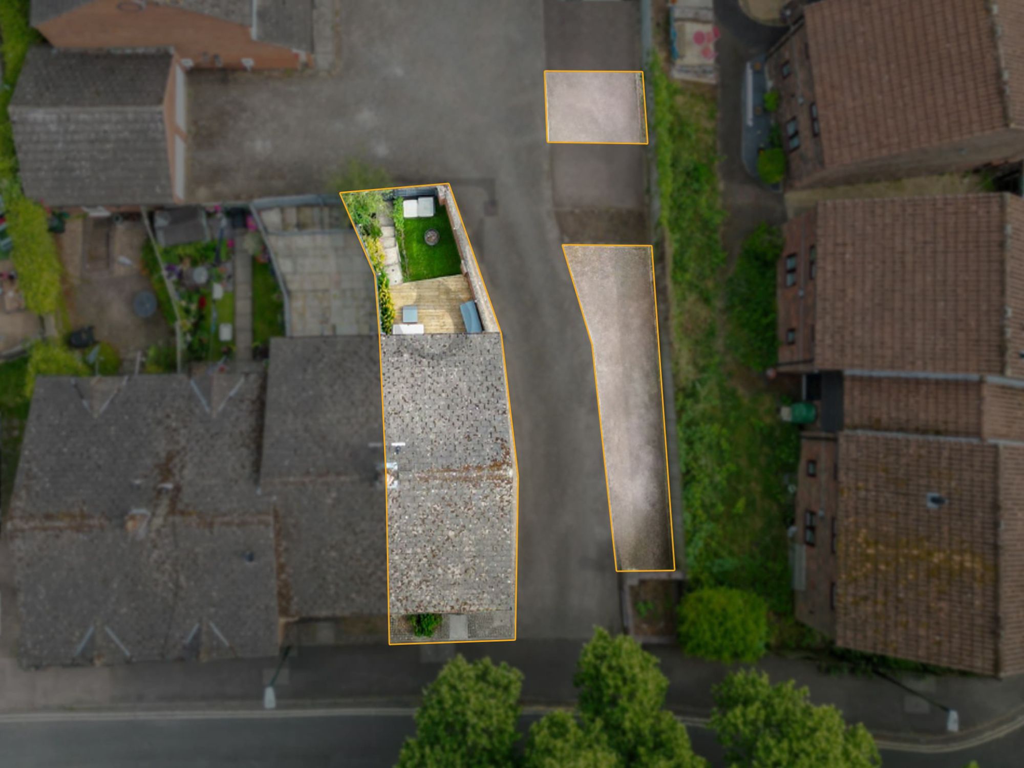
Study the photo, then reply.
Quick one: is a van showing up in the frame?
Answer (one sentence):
No, no van is visible in the view.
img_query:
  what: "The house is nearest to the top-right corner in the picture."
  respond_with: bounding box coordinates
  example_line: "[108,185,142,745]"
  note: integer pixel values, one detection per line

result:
[767,0,1024,197]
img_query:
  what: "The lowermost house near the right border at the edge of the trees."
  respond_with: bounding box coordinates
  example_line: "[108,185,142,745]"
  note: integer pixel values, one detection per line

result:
[799,428,1024,678]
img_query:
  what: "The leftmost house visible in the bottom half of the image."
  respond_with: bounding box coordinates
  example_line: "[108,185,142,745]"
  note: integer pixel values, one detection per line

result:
[3,372,171,672]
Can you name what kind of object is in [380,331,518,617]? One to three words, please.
house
